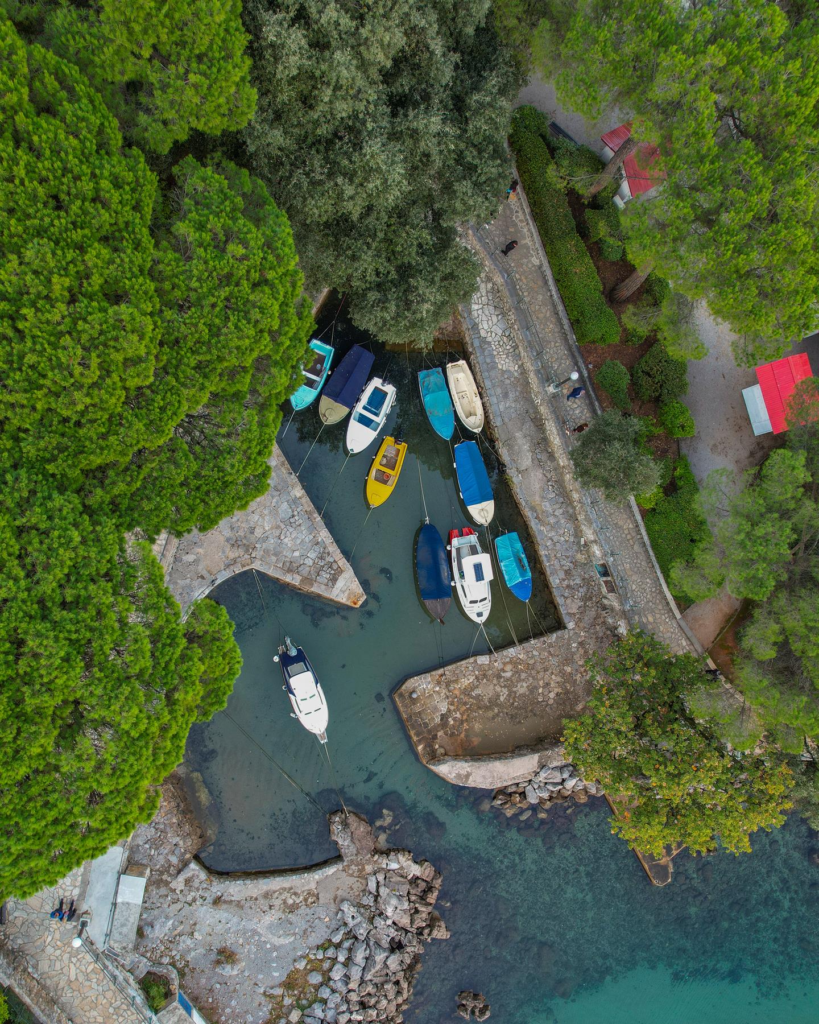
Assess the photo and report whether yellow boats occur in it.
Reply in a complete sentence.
Yes, the picture does show a yellow boat.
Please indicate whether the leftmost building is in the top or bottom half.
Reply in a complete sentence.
The leftmost building sits in the bottom half of the picture.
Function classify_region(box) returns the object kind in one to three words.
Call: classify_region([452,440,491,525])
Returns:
boat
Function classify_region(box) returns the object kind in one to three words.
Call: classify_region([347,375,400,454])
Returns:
boat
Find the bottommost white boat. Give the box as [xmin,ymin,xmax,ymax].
[270,632,331,747]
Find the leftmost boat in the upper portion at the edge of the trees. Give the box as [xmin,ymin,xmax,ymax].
[290,338,333,410]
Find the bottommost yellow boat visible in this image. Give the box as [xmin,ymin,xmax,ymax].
[367,435,406,508]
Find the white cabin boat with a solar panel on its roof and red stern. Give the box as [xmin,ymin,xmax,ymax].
[446,529,497,623]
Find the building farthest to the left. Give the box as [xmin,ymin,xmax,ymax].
[112,856,151,951]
